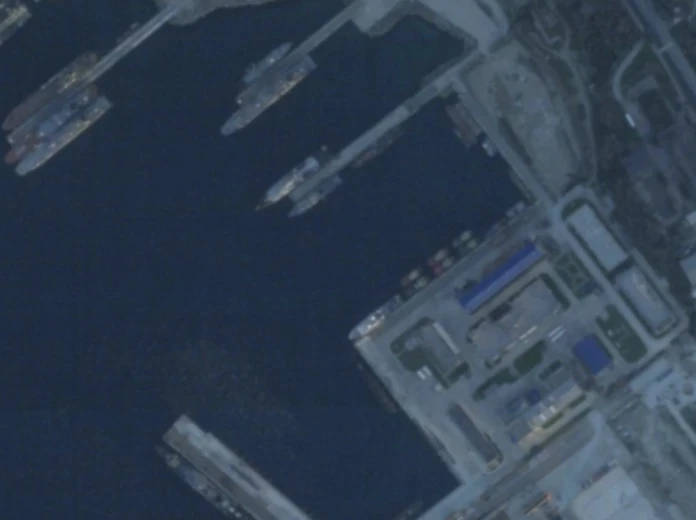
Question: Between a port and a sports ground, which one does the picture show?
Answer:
port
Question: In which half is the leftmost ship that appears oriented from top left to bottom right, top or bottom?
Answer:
bottom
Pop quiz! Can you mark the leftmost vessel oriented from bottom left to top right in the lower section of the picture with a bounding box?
[348,291,402,339]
